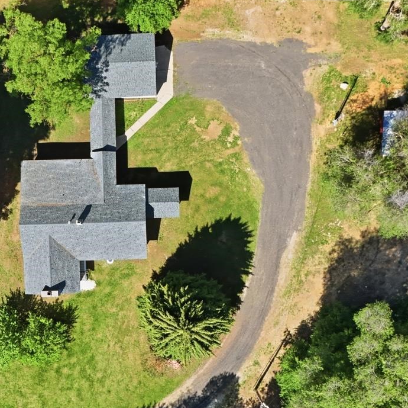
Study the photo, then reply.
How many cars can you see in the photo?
none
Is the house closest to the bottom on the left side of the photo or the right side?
left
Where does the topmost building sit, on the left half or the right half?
left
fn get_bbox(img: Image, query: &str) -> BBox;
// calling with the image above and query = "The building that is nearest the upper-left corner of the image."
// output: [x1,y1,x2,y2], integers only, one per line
[91,34,160,99]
